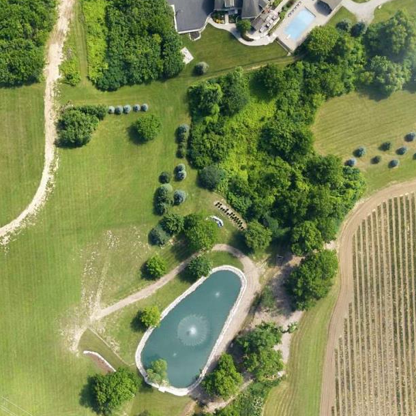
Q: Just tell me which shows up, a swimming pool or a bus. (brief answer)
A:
swimming pool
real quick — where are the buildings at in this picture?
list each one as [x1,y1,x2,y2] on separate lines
[318,0,342,13]
[212,0,274,22]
